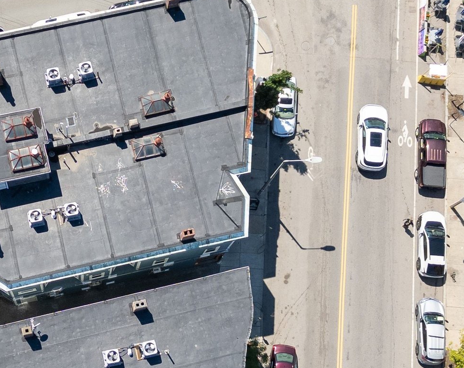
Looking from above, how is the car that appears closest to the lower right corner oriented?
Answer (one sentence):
Seen from above, the car that appears closest to the lower right corner lies up and down.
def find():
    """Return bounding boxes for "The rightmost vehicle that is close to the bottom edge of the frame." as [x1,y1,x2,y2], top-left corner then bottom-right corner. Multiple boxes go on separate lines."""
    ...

[415,298,449,365]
